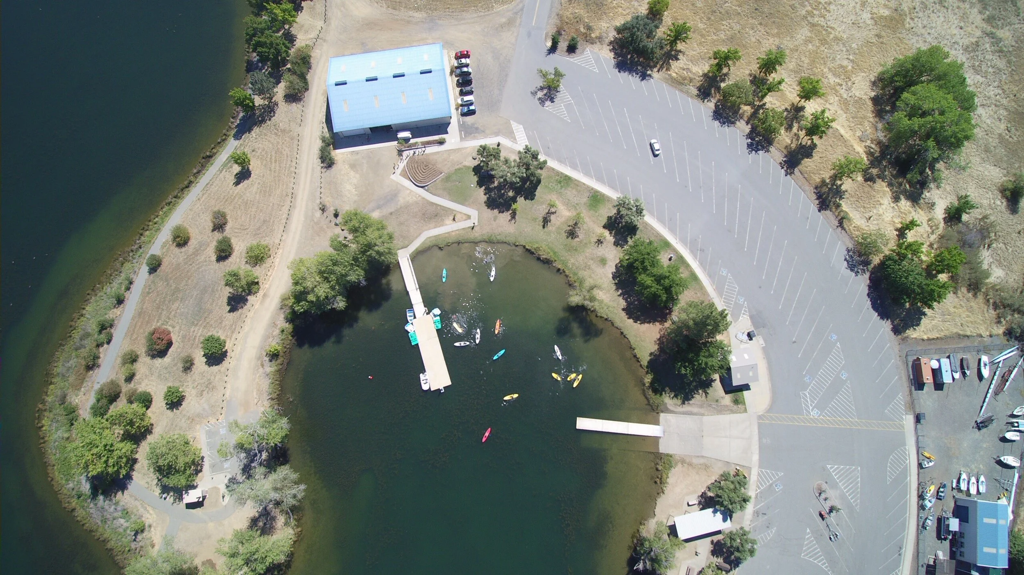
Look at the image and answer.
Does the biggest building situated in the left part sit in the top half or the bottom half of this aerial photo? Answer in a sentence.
The top half of the photo is where the biggest building situated in the left part is.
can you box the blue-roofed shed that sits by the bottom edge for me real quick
[954,498,1010,575]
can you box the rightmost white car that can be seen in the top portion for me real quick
[650,139,662,158]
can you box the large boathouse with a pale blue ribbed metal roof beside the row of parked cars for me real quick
[328,42,452,140]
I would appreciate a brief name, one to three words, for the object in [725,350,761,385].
building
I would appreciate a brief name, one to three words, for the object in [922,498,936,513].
boat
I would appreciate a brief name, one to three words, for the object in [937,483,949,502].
boat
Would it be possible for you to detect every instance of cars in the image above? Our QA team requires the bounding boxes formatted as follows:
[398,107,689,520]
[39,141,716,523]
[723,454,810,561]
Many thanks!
[458,85,475,96]
[453,57,471,67]
[650,139,662,158]
[455,75,474,86]
[459,105,477,116]
[454,48,472,58]
[457,95,475,106]
[454,67,473,77]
